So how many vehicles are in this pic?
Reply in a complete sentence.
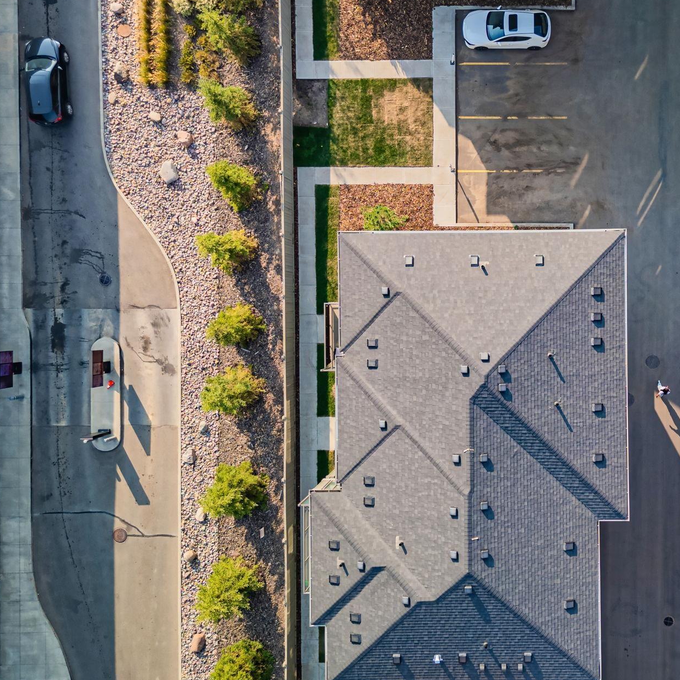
I count 2 vehicles.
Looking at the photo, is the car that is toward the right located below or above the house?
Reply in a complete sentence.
The car that is toward the right is above the house.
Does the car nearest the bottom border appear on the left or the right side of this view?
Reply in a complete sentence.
You can find the car nearest the bottom border on the left side of the picture.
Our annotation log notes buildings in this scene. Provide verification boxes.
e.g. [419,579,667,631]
[293,226,632,680]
